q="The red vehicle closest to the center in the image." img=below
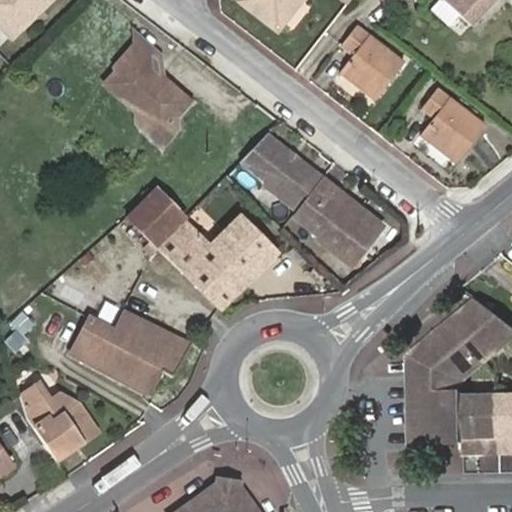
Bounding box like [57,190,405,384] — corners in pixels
[260,326,282,338]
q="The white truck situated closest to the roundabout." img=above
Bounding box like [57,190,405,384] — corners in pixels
[178,392,214,428]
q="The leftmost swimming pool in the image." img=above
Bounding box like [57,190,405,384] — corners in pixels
[236,170,258,190]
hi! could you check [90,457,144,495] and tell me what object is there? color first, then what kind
white bus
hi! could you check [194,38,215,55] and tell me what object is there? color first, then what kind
gray car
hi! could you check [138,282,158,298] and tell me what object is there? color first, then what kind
white car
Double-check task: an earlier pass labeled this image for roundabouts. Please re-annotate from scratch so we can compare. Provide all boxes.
[216,316,342,442]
